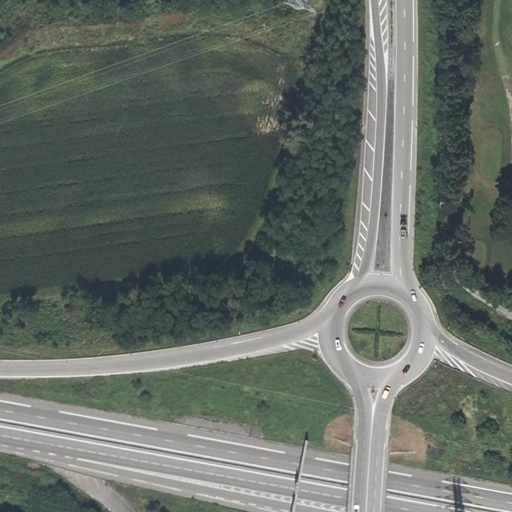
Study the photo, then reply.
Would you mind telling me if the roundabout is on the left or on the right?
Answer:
right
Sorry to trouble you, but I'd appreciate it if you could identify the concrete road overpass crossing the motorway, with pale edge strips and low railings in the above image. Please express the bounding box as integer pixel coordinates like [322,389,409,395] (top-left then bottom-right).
[348,444,390,512]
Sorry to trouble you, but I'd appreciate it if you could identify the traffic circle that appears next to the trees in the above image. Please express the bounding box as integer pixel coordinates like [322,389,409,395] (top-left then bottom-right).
[317,271,438,392]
